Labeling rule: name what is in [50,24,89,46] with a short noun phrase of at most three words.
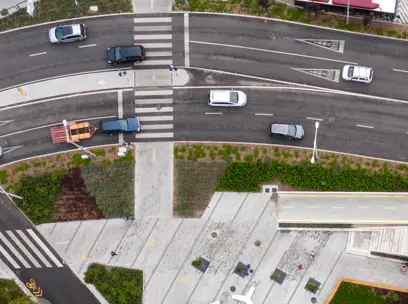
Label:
car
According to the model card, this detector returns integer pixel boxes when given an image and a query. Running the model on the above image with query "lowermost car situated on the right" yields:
[270,122,305,141]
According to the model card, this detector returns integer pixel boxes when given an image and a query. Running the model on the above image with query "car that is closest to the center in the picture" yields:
[208,88,248,109]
